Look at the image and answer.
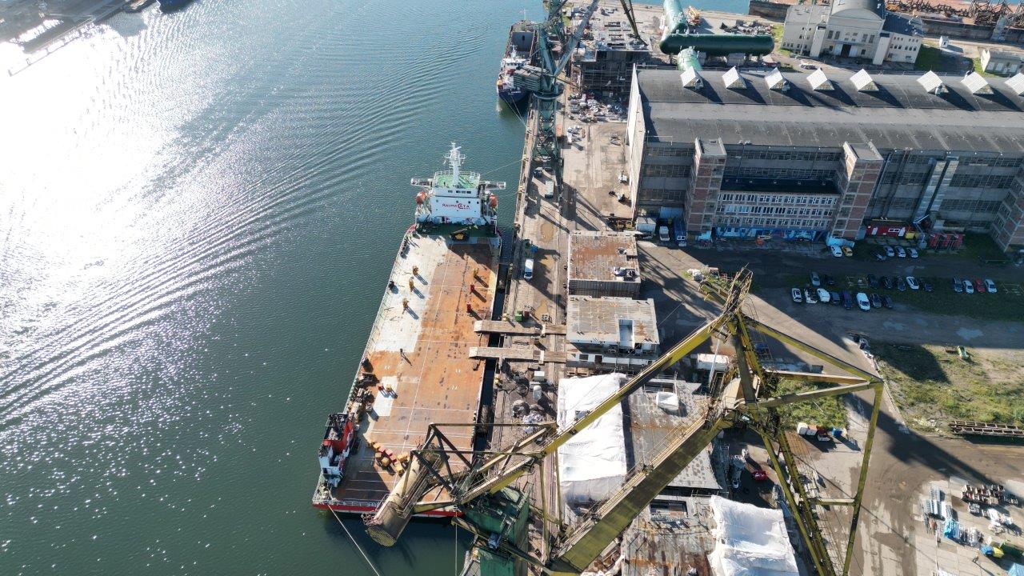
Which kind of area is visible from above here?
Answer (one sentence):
The picture captures a port.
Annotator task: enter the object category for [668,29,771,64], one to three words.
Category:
storage tank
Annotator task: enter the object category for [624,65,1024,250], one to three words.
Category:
building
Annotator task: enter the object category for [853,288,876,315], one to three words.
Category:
vehicle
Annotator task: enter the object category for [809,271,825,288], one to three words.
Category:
car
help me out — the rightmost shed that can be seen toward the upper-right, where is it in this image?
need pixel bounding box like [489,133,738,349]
[977,44,1024,76]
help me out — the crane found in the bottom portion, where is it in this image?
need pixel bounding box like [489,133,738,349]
[358,250,887,576]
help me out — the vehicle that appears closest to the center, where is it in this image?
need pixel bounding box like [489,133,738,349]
[522,258,536,283]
